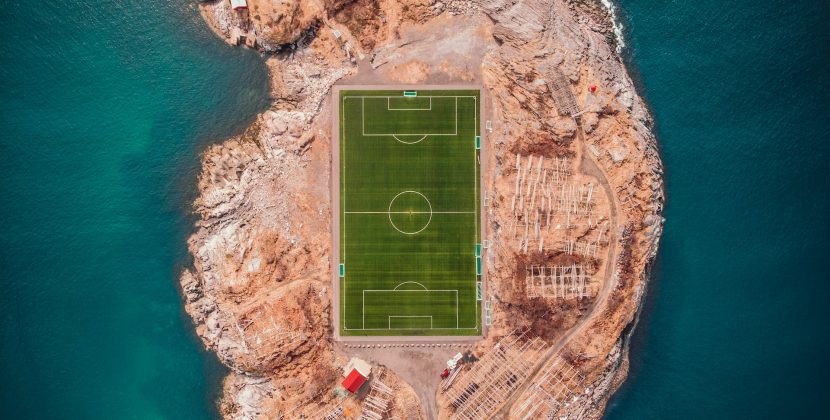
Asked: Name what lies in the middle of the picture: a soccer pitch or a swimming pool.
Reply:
soccer pitch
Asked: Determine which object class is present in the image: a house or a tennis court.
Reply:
house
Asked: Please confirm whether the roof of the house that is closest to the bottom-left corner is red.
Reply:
Yes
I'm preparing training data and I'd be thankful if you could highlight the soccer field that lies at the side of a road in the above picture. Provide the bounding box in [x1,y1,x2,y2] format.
[340,90,482,336]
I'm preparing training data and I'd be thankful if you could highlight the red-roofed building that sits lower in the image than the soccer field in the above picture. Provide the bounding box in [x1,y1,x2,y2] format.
[342,368,366,393]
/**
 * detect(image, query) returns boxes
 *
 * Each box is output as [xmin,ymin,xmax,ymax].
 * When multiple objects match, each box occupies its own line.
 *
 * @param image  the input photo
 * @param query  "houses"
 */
[231,0,249,11]
[342,368,366,393]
